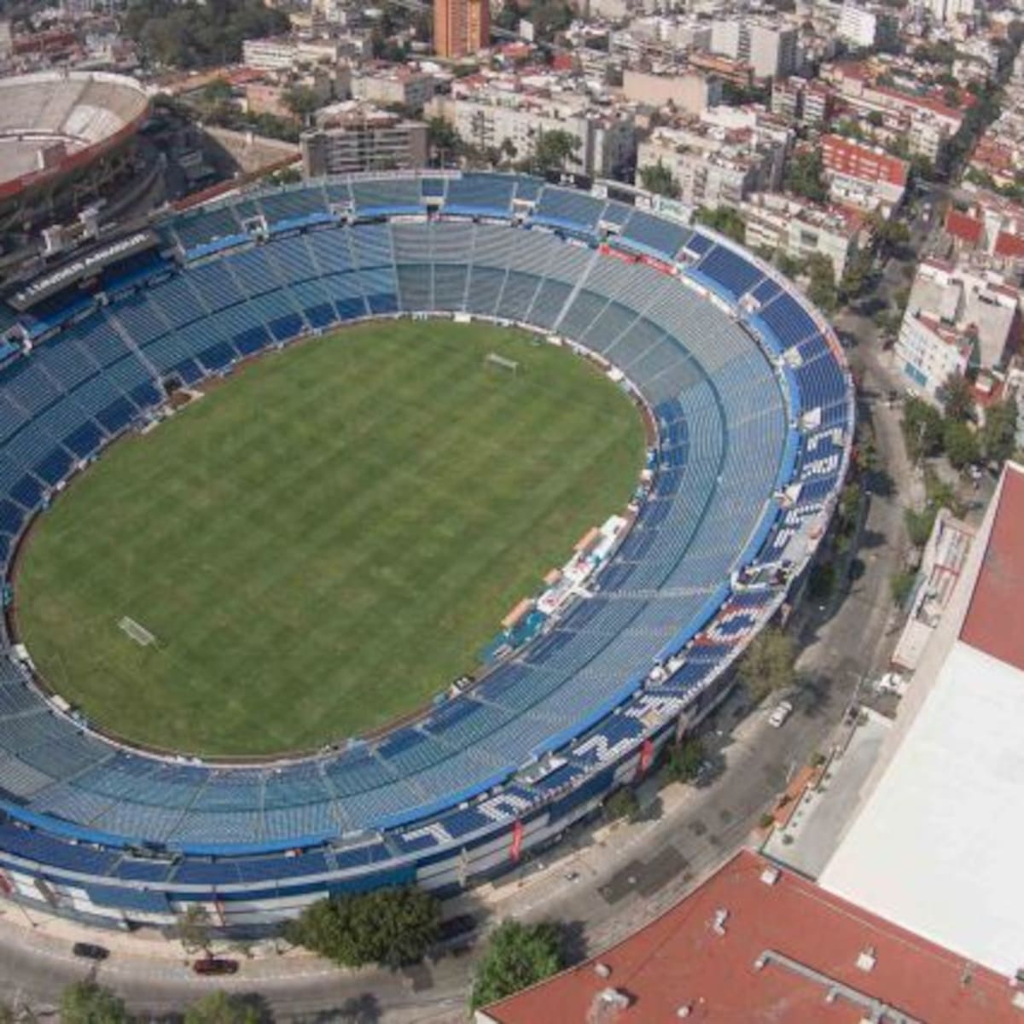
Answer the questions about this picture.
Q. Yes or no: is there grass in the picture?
Yes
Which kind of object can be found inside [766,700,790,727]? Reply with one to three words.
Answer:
car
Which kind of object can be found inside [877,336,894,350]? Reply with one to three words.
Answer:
car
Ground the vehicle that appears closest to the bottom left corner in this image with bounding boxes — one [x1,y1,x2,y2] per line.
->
[70,940,109,962]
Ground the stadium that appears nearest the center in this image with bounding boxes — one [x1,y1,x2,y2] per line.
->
[0,176,848,937]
